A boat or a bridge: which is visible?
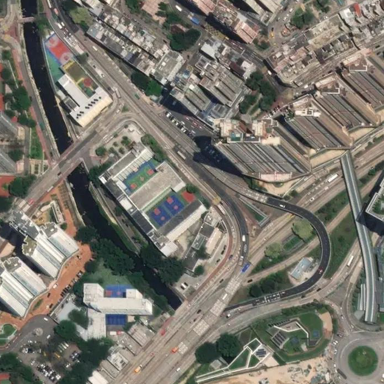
bridge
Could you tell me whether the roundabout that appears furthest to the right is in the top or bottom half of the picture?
bottom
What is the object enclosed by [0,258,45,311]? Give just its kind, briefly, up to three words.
building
